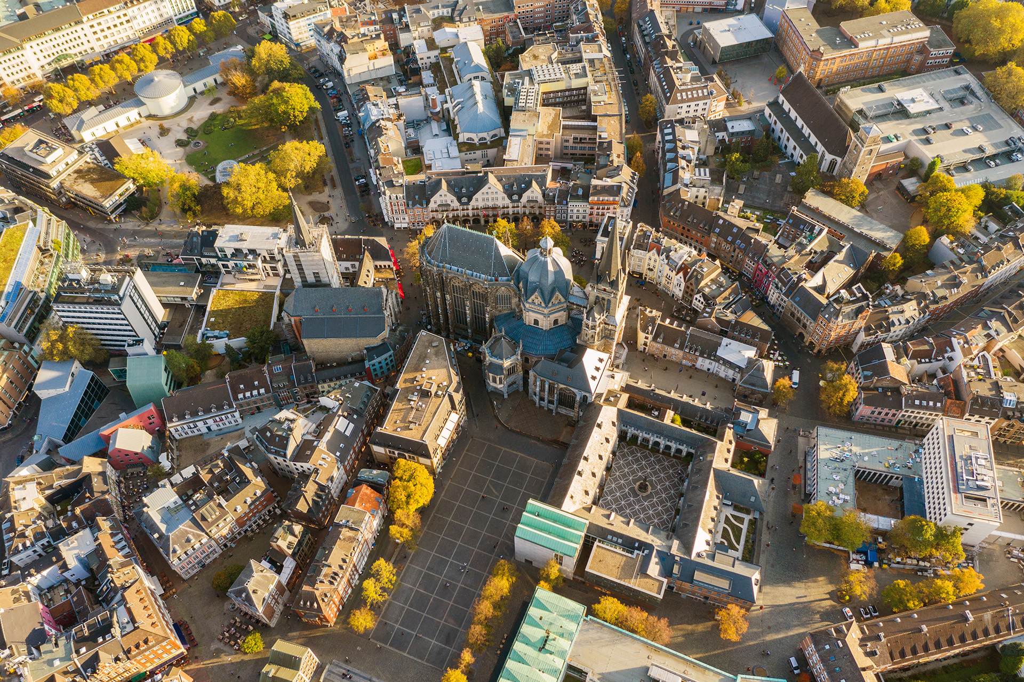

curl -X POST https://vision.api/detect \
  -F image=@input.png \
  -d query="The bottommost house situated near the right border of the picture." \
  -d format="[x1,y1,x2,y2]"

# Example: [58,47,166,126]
[789,583,1024,682]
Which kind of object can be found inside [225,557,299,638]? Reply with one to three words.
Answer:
house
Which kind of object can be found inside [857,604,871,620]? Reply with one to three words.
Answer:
car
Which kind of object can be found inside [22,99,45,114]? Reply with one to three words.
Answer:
vehicle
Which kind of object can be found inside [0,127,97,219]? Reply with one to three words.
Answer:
building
